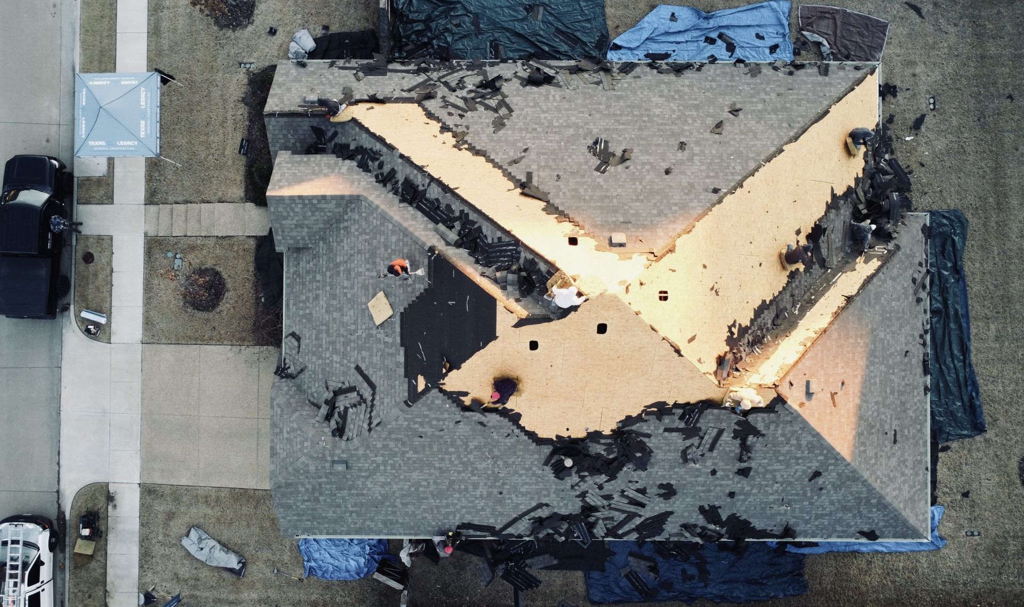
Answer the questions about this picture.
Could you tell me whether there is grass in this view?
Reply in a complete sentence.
Yes, the picture does contain grass.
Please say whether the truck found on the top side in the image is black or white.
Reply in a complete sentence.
In this view, the truck found on the top side is black.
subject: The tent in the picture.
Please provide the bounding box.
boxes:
[75,69,186,168]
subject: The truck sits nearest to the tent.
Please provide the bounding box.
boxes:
[0,152,77,319]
